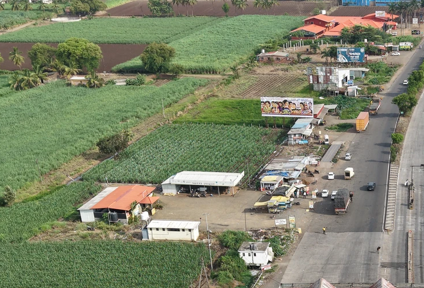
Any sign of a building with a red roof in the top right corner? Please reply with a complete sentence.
Yes, I can see a building with a red roof in the top right corner.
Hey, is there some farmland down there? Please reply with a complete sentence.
Yes, farmland can be seen from above here.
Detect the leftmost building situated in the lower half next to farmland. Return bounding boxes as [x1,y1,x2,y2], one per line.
[75,180,156,224]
